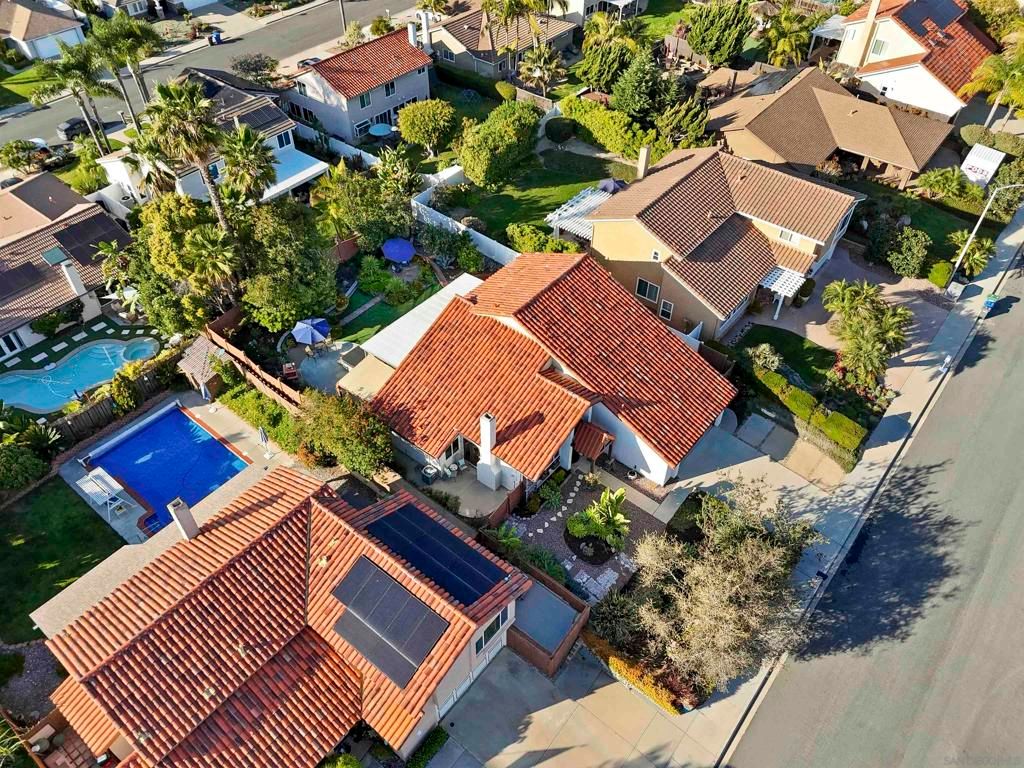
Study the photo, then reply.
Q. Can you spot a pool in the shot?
Yes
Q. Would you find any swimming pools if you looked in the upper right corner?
No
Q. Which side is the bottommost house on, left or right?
left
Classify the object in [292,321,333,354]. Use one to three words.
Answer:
umbrella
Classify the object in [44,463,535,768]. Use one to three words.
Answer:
house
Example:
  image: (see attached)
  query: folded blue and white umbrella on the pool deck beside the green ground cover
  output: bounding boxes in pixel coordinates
[258,429,277,457]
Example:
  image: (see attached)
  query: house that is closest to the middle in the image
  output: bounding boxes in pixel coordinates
[369,250,741,498]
